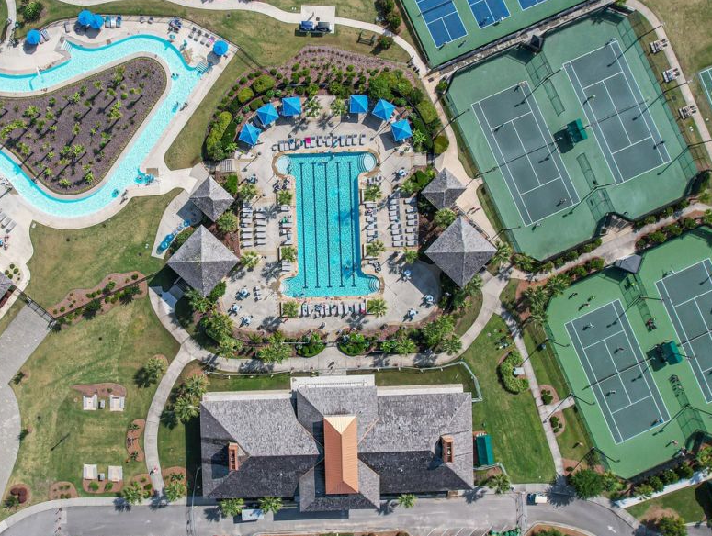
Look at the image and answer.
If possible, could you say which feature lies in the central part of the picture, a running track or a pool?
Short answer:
pool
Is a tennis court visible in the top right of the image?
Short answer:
Yes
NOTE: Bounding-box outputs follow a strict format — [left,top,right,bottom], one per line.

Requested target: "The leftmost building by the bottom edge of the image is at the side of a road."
[200,371,473,511]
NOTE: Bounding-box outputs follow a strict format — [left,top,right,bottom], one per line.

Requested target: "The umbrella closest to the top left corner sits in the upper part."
[27,28,43,45]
